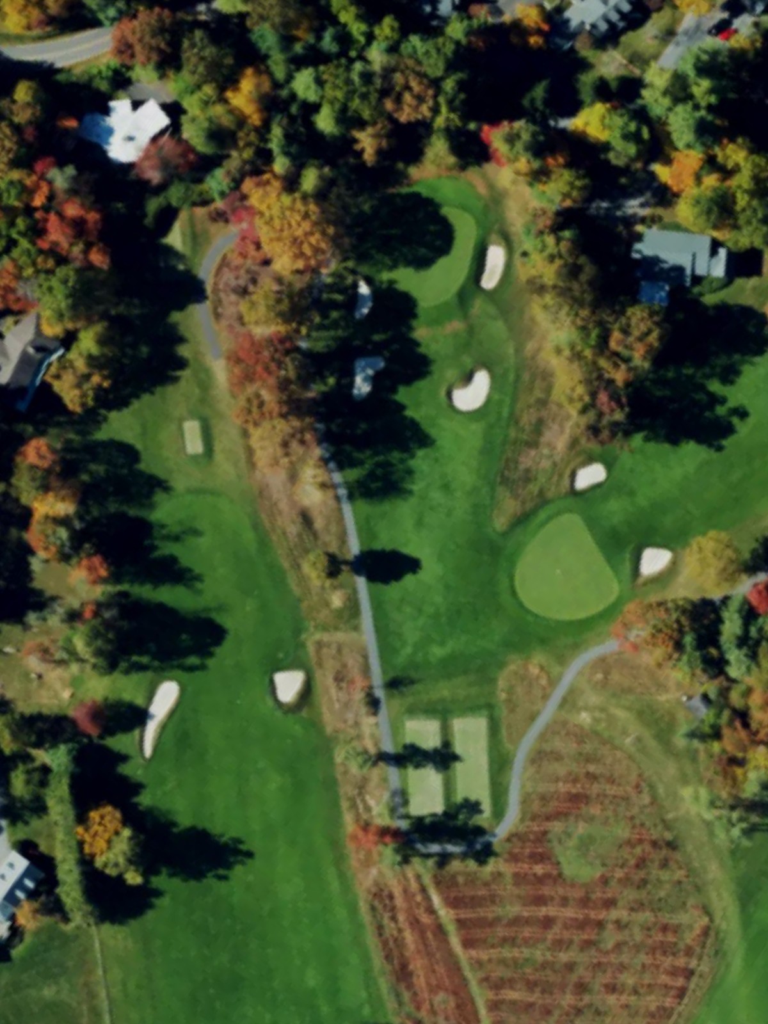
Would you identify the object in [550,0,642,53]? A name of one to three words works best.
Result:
house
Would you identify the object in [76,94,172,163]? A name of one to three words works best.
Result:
house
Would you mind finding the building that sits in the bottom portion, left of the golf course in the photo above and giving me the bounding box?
[0,848,49,927]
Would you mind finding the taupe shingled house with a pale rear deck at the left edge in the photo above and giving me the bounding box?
[0,317,60,412]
